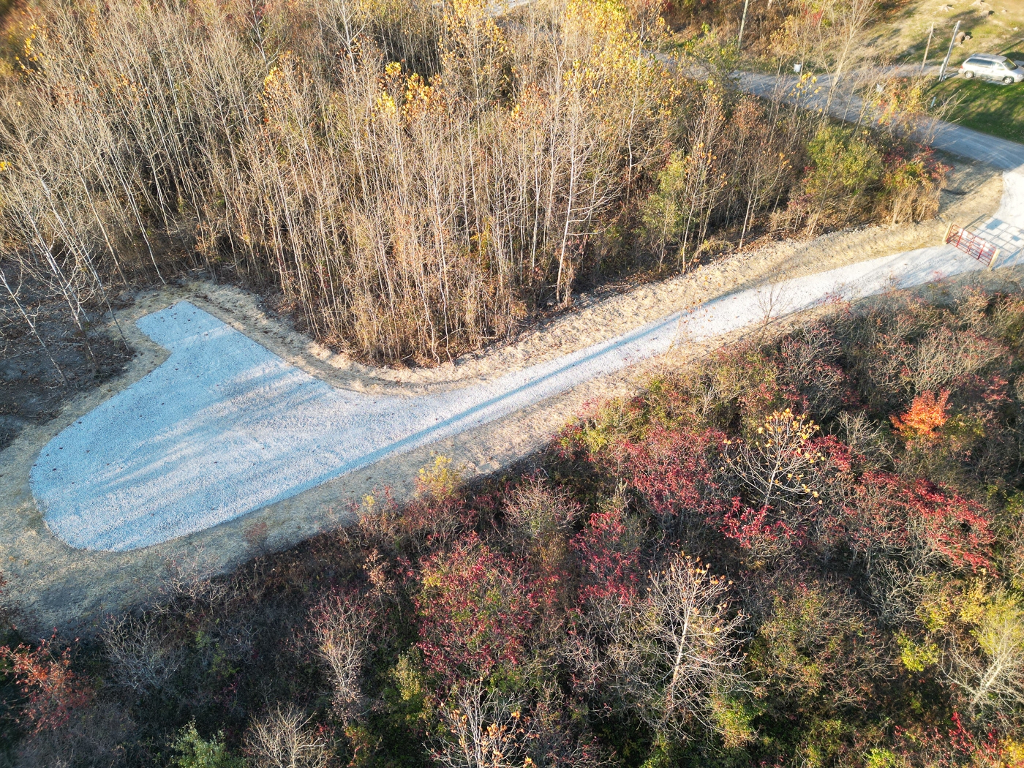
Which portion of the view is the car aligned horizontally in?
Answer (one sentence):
The car aligned horizontally is in the top right part of the image.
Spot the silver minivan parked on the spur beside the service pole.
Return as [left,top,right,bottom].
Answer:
[959,44,1024,80]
